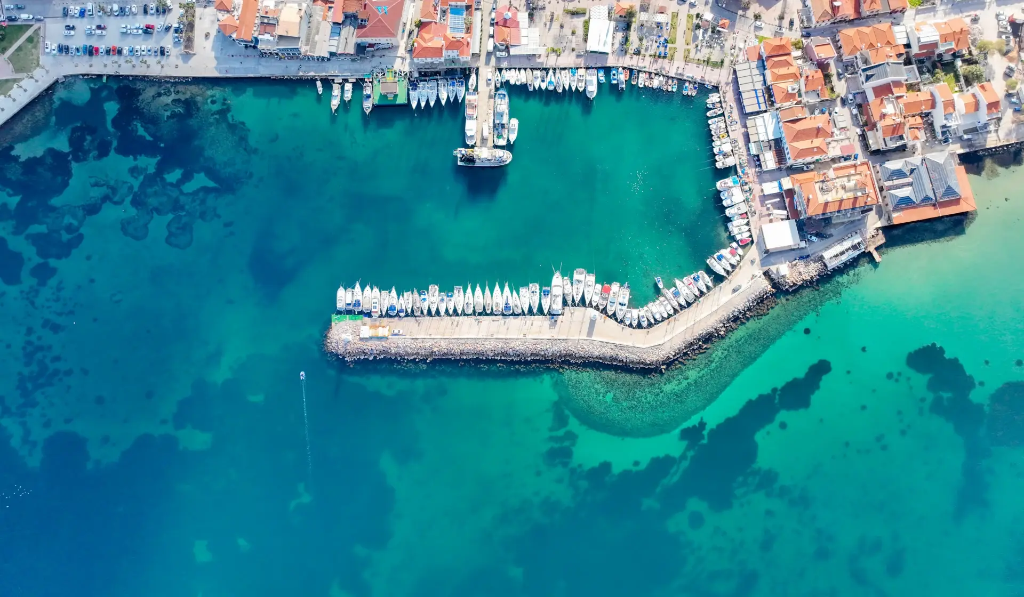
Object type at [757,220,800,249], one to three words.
tent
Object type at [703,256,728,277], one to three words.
boat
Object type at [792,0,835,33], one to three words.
house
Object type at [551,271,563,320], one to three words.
boat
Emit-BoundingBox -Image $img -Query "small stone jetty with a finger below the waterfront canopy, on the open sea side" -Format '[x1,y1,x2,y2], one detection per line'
[865,230,886,262]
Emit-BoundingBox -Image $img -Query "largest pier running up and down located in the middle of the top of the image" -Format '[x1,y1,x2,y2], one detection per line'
[476,68,495,148]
